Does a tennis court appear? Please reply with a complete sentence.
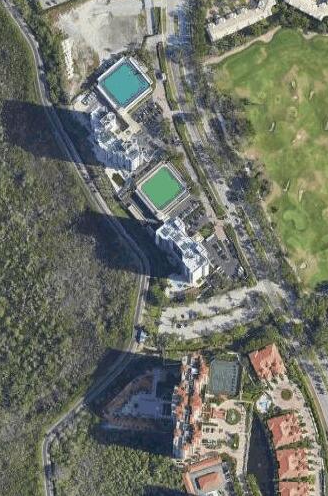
Yes, there's a tennis court here.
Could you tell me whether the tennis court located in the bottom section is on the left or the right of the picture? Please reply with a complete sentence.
It is on the right.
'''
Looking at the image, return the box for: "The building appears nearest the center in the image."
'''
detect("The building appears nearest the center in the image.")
[154,217,209,284]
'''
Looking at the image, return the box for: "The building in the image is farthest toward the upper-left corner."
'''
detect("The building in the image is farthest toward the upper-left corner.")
[97,57,152,111]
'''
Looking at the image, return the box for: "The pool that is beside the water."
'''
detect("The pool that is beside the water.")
[256,393,271,413]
